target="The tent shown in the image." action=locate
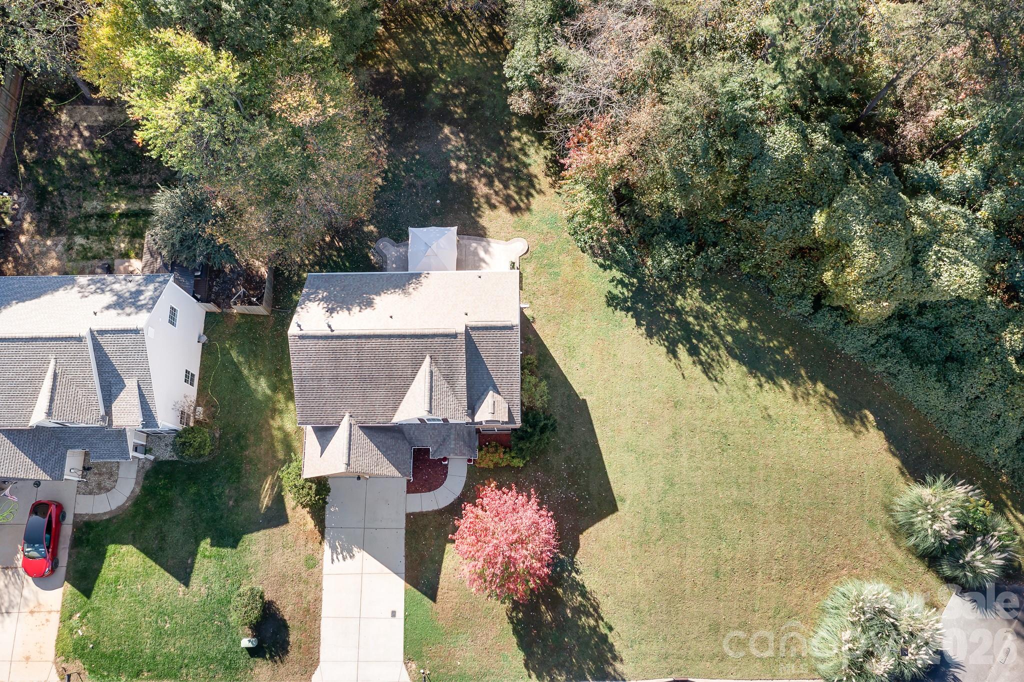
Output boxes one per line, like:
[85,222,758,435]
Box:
[407,227,459,270]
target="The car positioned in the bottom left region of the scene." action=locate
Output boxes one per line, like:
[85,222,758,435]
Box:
[18,497,70,579]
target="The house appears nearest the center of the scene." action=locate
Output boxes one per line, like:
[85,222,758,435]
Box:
[288,270,522,482]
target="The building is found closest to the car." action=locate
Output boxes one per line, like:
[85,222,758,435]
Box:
[0,273,205,482]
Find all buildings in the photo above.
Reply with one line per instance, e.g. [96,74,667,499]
[0,273,205,482]
[288,270,522,482]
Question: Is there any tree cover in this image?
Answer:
Yes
